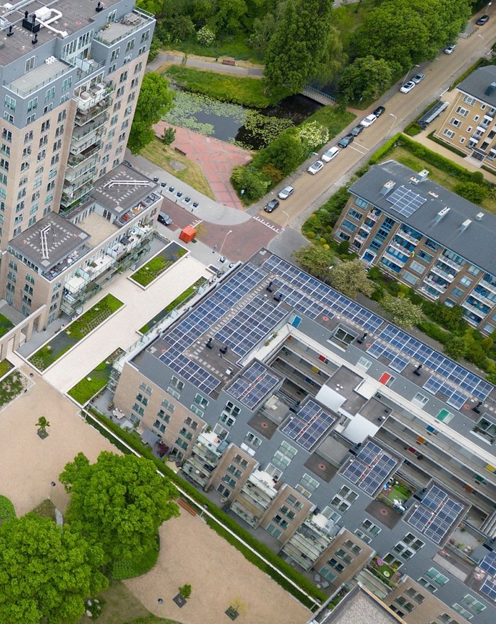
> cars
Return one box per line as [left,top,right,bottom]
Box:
[412,72,426,83]
[337,132,355,148]
[321,145,340,161]
[350,122,365,135]
[306,160,325,174]
[373,103,388,116]
[476,13,490,23]
[263,197,282,212]
[278,183,296,198]
[400,78,417,92]
[361,111,378,125]
[443,42,458,54]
